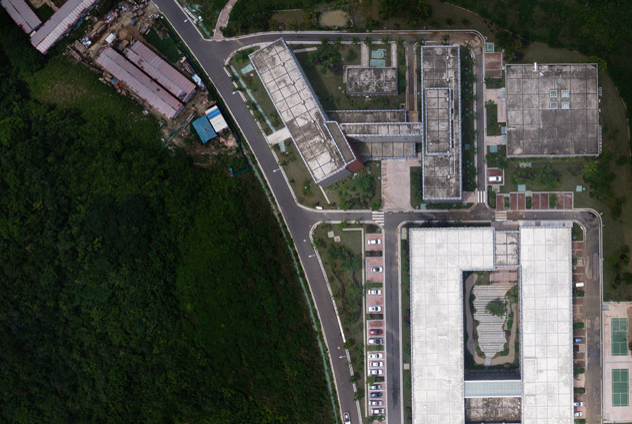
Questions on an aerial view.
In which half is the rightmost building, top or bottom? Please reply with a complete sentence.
Seen from above, the rightmost building lies in the top half of the view.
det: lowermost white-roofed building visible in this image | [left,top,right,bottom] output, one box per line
[409,220,574,424]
